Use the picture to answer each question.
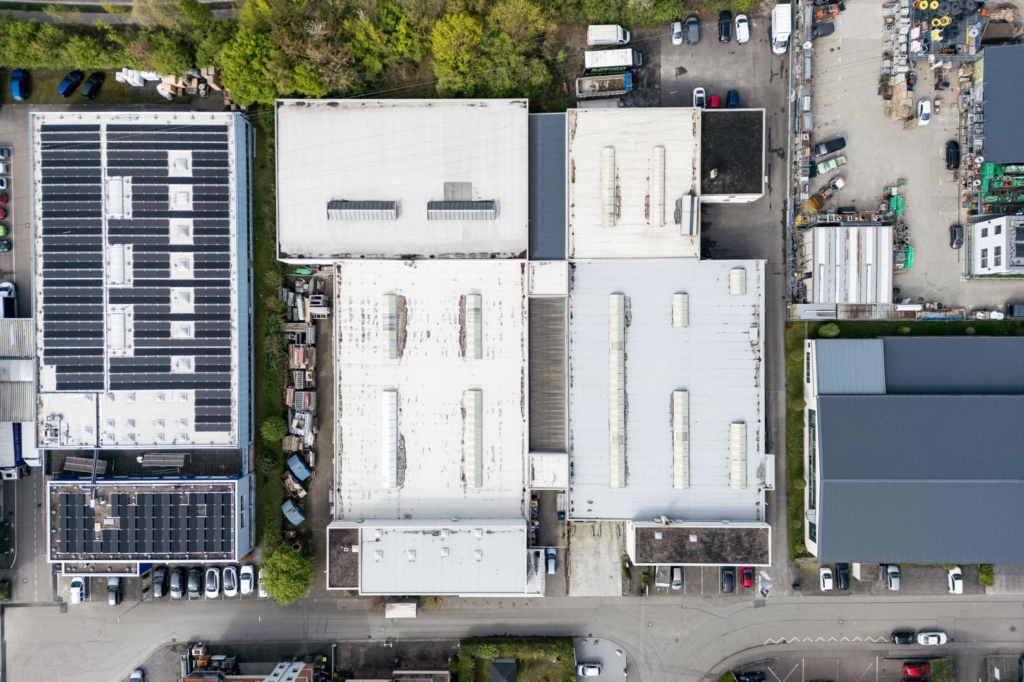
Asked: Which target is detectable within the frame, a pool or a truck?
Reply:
truck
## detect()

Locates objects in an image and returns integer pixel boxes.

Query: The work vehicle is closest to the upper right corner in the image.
[935,75,954,91]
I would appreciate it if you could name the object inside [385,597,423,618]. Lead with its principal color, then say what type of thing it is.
white trailer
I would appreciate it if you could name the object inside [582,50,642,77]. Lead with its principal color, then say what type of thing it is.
white truck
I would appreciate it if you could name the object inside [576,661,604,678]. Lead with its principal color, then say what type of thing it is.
white car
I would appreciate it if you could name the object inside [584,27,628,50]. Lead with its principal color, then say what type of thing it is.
white vehicle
